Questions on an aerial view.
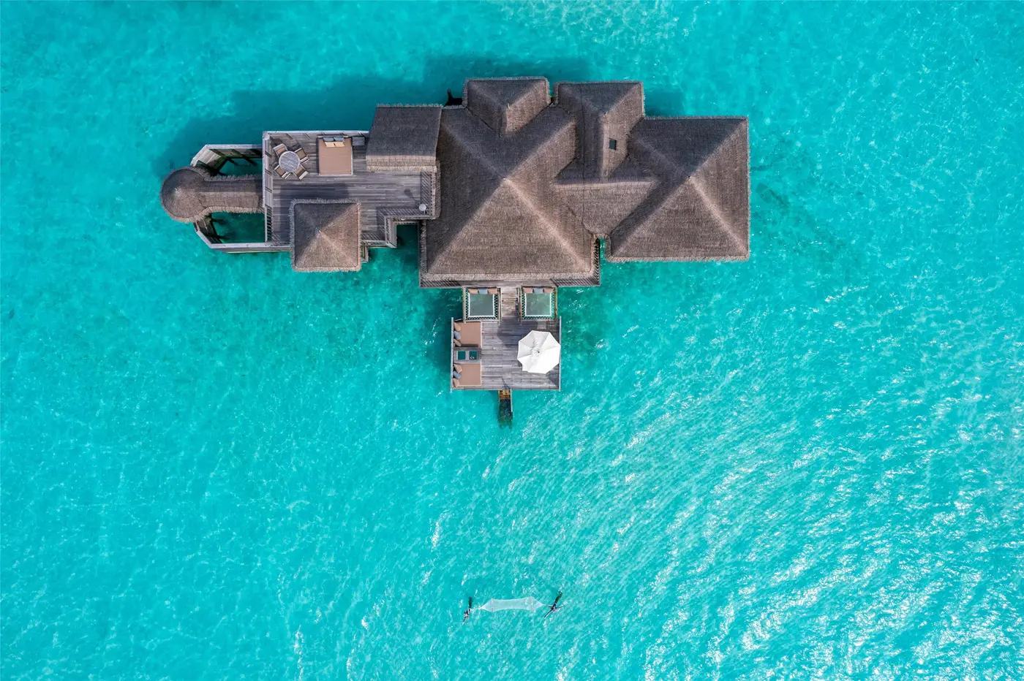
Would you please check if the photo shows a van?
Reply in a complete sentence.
No, I find no van anywhere in the image.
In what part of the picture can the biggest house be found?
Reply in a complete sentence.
The biggest house sits in the top section of the image.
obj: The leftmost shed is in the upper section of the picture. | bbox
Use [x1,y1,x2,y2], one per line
[159,163,271,225]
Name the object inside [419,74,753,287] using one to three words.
house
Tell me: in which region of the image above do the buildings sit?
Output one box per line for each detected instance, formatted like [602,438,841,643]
[159,163,271,225]
[287,197,364,273]
[419,74,753,287]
